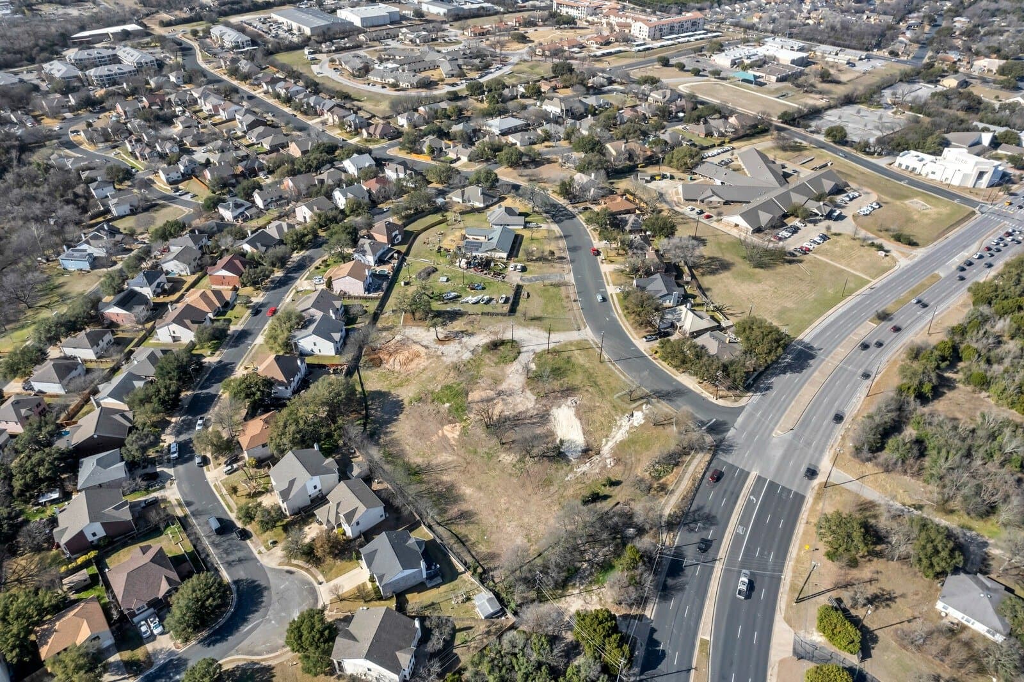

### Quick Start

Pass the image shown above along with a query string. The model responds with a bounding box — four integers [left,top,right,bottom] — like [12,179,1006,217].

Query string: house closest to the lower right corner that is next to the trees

[936,569,1013,640]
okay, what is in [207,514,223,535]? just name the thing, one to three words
vehicle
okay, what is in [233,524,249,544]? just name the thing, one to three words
car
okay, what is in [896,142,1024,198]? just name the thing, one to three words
building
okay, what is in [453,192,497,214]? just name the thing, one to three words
house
